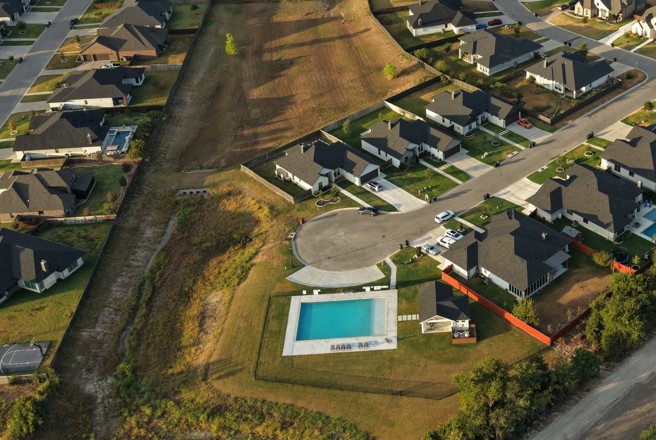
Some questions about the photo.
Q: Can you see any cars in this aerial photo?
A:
Yes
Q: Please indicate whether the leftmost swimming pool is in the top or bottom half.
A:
top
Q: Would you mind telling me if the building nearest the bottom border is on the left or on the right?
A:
right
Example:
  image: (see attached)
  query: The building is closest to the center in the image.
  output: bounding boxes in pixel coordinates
[275,134,381,199]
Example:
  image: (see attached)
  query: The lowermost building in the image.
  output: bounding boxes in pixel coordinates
[419,277,472,334]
